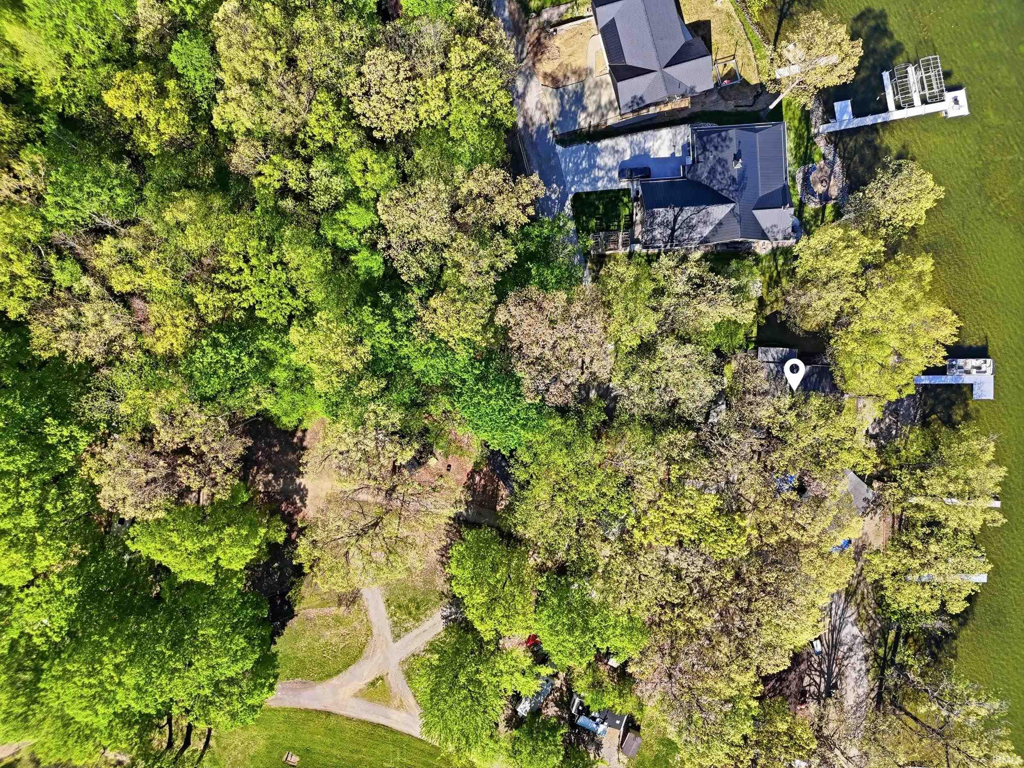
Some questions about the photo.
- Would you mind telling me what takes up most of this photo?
trees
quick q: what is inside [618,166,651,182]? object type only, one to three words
car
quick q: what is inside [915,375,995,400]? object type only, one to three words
pier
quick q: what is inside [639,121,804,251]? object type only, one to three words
house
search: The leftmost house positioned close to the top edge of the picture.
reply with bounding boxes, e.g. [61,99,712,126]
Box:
[593,0,713,120]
